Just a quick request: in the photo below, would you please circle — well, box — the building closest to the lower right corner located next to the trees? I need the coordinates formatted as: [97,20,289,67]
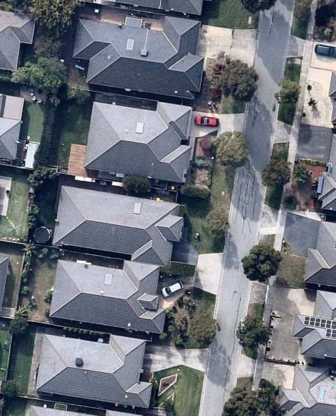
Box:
[277,364,336,416]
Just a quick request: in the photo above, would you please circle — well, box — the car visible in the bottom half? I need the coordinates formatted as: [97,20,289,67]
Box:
[161,281,183,297]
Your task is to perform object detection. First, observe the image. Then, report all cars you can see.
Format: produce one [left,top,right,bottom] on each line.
[194,115,219,127]
[314,43,336,57]
[161,281,183,297]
